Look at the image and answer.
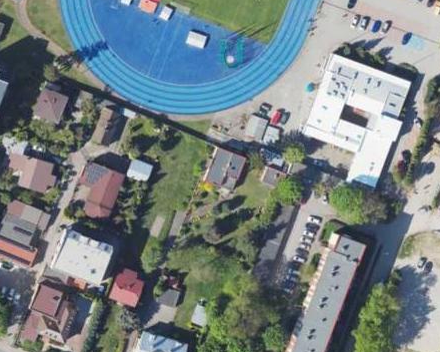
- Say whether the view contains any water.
No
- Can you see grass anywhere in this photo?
Yes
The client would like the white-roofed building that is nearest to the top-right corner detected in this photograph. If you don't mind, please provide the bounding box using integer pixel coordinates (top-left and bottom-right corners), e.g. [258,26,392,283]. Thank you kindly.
[303,53,411,189]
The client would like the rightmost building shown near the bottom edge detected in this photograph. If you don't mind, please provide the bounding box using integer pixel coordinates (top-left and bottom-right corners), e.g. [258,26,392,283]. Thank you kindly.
[286,236,367,352]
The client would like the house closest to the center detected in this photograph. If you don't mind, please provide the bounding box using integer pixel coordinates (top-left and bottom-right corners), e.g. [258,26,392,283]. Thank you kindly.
[203,146,248,190]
